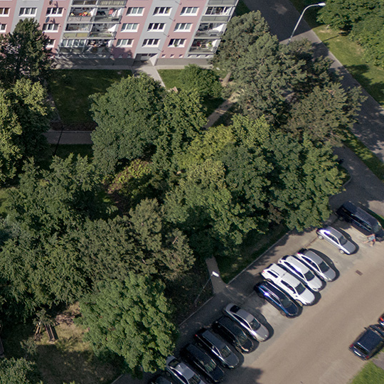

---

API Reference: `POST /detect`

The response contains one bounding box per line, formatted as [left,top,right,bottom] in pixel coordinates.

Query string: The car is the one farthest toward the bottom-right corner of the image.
[348,323,384,363]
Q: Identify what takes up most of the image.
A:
trees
